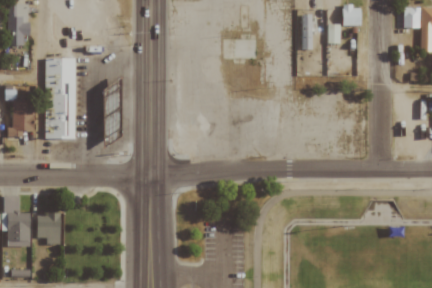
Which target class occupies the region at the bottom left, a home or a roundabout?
home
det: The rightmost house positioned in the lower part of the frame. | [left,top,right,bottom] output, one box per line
[36,211,60,246]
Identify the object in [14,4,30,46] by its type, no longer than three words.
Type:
house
